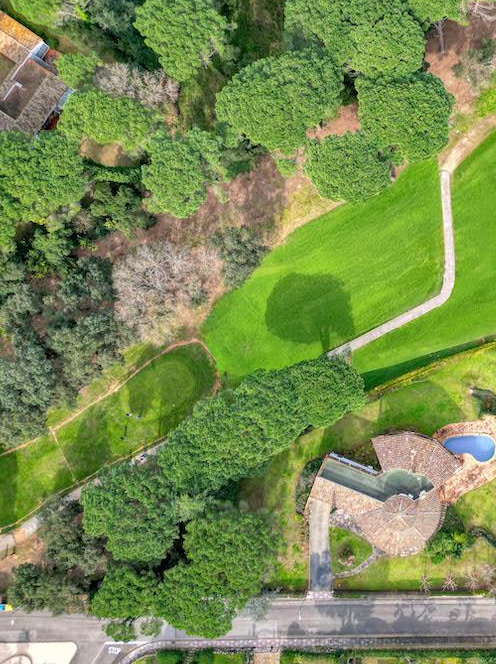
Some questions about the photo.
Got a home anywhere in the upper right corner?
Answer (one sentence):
No, no home appears in the upper right corner.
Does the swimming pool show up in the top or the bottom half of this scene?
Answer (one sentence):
You can find the swimming pool in the bottom half.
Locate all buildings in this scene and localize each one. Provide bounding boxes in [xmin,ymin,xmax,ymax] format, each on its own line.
[0,13,74,128]
[306,431,464,557]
